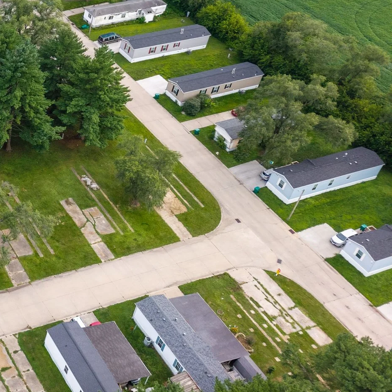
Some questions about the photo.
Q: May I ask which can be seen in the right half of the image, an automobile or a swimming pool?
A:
automobile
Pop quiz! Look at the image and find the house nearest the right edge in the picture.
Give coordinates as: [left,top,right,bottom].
[340,223,392,276]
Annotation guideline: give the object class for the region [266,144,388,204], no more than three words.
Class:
house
